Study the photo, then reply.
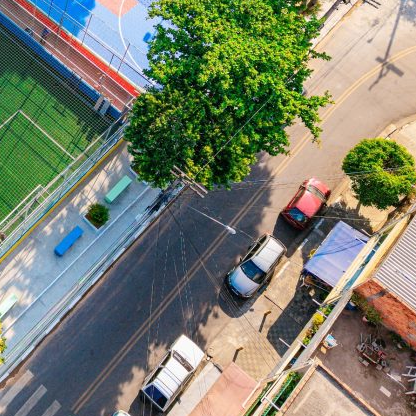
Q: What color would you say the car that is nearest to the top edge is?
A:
red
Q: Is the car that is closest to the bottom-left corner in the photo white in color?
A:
Yes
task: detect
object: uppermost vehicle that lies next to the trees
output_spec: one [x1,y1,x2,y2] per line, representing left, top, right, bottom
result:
[285,175,339,234]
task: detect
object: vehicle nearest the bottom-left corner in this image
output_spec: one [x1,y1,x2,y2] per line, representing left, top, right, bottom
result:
[141,335,209,416]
